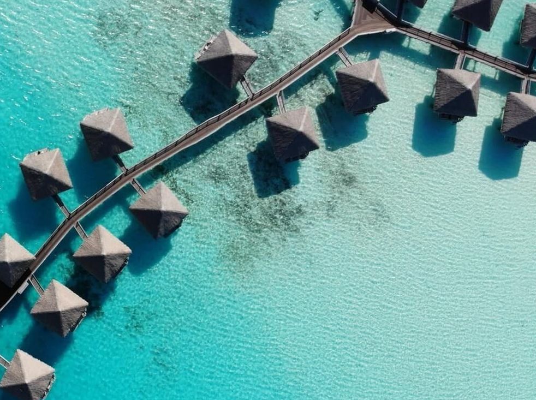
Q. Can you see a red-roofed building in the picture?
No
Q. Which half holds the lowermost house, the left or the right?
left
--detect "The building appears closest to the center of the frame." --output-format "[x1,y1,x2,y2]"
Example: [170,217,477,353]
[266,106,320,163]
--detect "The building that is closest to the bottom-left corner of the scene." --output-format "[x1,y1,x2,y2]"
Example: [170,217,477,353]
[0,349,56,400]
